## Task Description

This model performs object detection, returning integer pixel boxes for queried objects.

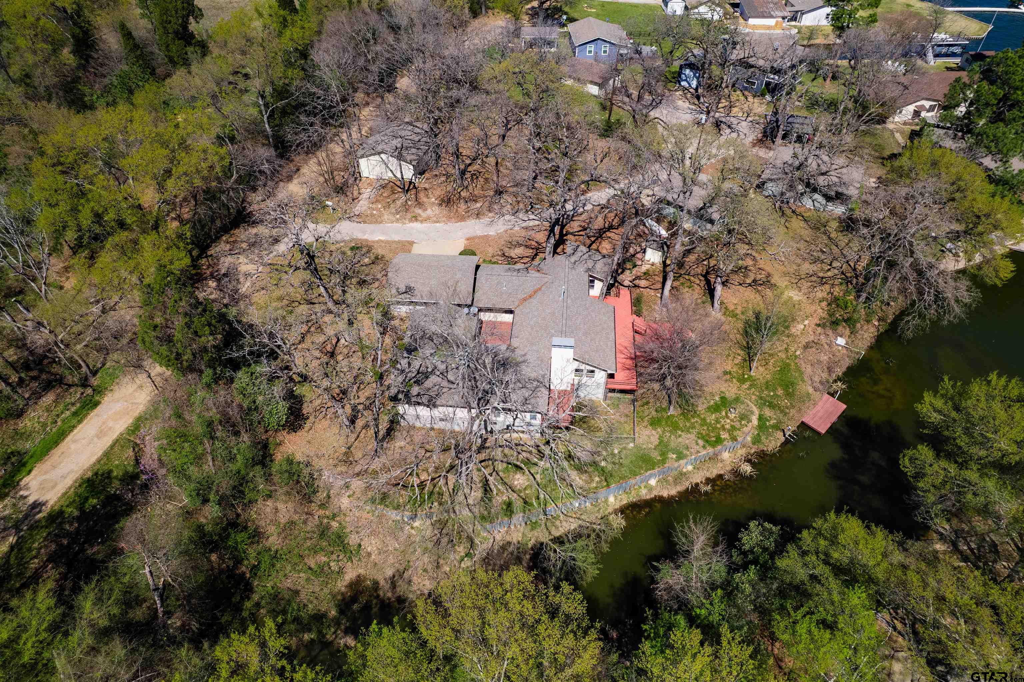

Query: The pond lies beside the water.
[298,256,1024,682]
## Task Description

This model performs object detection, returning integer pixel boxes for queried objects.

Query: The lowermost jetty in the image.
[800,395,847,436]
